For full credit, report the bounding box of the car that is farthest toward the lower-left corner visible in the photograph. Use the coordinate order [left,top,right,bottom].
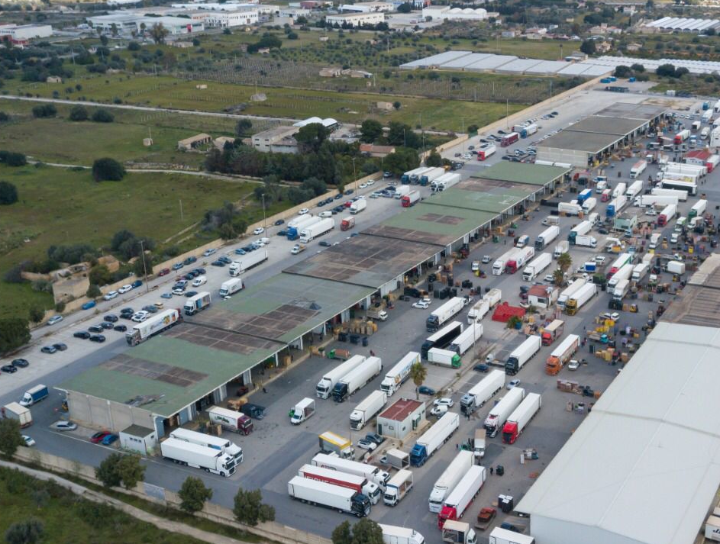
[20,433,37,447]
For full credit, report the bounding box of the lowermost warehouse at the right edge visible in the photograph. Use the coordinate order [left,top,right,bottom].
[511,322,720,544]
